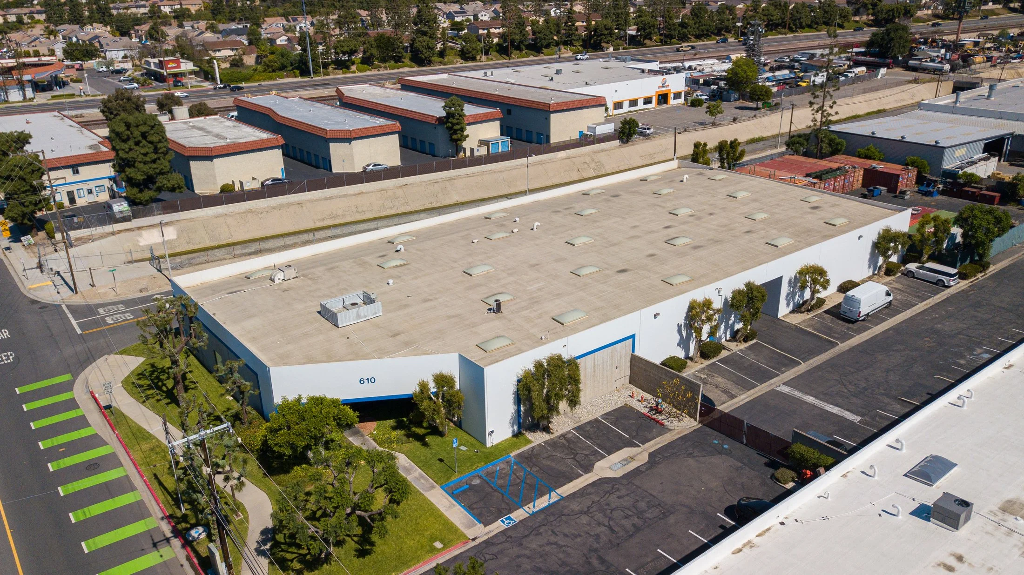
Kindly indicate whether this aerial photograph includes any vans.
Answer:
Yes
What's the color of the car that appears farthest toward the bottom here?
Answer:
black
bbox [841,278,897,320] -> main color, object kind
white van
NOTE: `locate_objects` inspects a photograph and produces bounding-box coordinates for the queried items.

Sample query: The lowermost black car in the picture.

[735,482,794,517]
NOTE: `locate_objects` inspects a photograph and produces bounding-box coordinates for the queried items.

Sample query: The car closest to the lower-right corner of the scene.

[807,429,864,453]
